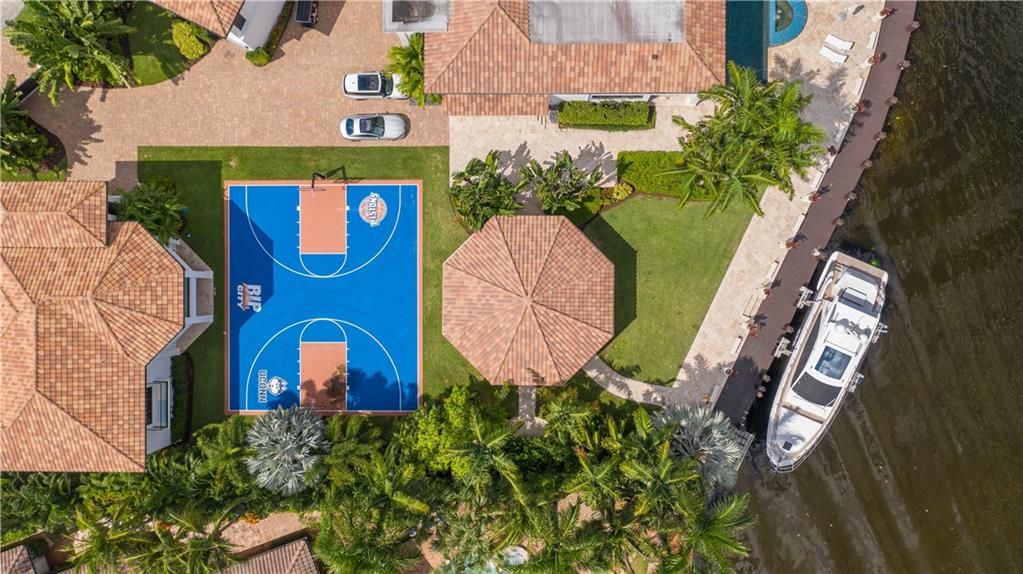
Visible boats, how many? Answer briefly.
1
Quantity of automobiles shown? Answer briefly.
2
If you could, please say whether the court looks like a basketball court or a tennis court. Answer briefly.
basketball court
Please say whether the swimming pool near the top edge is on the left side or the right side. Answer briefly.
right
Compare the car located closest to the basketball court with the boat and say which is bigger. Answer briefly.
the boat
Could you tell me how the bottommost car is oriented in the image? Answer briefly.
from side to side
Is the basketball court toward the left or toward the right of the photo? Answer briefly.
left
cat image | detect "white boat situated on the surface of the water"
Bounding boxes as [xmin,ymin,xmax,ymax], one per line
[768,253,889,475]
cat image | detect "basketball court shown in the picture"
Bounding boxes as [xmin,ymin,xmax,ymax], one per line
[225,181,423,415]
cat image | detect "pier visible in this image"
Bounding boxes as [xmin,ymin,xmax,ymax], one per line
[713,0,917,427]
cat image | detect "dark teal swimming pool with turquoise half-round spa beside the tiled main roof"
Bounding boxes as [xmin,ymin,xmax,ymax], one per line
[726,0,811,83]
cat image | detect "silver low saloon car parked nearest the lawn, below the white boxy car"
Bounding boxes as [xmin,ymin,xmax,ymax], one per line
[340,110,407,142]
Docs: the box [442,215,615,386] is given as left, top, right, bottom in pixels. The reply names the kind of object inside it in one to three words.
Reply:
gazebo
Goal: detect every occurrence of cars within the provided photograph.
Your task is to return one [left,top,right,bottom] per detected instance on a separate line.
[343,69,409,102]
[340,110,407,142]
